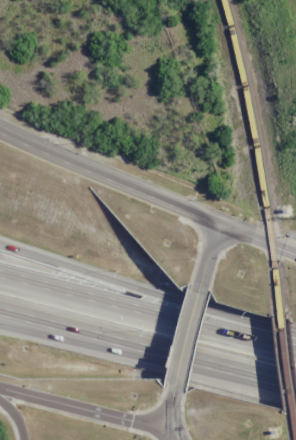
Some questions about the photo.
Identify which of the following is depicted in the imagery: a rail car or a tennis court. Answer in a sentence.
The image shows a rail car.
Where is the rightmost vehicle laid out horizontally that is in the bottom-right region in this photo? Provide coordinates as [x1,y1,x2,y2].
[216,328,256,342]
